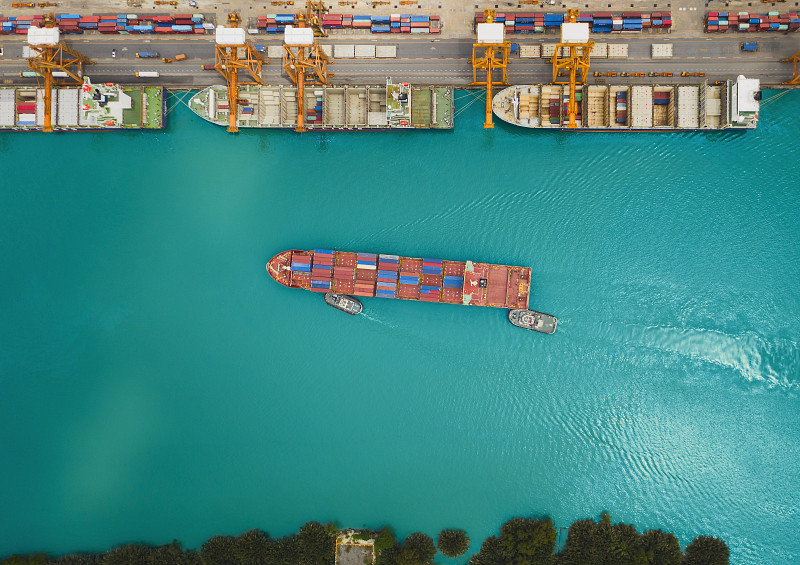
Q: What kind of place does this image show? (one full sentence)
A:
It's a port.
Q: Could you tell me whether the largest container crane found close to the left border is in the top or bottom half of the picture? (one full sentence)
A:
It is in the top half that the largest container crane found close to the left border appears.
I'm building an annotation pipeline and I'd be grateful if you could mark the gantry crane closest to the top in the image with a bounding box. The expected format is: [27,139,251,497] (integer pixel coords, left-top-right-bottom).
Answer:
[307,0,329,37]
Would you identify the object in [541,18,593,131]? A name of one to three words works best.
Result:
container crane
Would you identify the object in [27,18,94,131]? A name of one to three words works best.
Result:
container crane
